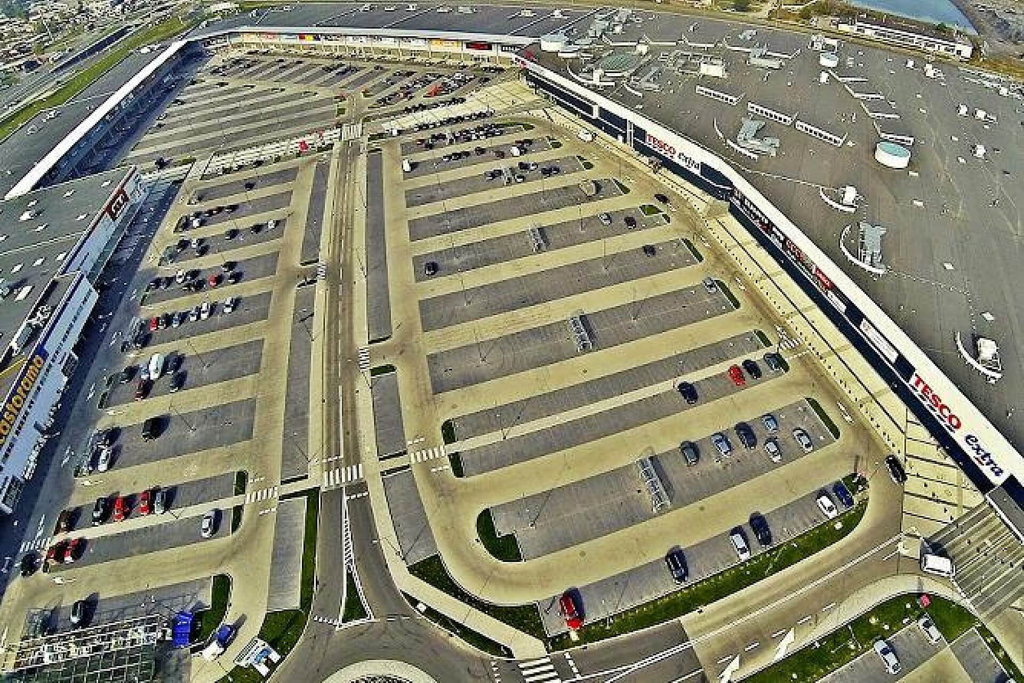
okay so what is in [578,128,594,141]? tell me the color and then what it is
white vehicle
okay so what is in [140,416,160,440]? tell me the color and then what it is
black car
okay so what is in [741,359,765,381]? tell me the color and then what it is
black car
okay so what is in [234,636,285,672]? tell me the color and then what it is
white trailer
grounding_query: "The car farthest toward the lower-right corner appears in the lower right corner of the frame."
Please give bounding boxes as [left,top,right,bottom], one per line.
[983,656,1023,683]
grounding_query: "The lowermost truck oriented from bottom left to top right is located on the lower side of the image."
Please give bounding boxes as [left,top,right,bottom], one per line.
[201,621,238,663]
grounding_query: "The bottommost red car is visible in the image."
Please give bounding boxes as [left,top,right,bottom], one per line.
[559,590,583,628]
